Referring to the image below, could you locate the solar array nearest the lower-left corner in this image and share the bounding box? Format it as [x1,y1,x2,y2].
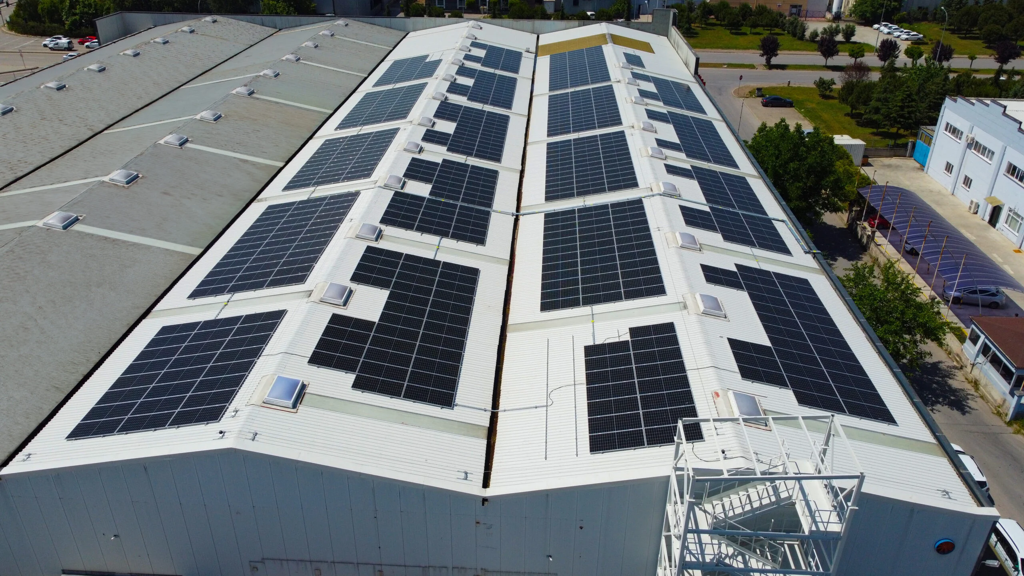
[65,310,286,442]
